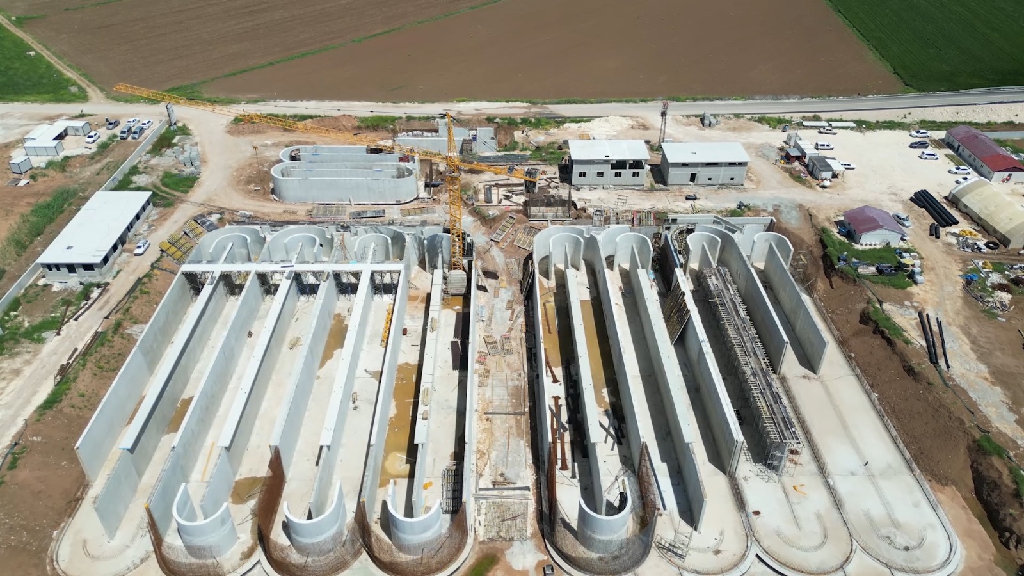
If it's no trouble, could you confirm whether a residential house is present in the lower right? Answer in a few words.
No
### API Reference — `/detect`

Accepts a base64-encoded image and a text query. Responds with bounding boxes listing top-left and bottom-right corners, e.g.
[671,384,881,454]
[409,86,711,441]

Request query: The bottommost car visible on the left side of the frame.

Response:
[127,236,154,253]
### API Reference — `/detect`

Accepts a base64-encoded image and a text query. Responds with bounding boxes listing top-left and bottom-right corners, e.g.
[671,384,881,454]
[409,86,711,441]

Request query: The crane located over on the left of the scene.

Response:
[116,85,541,303]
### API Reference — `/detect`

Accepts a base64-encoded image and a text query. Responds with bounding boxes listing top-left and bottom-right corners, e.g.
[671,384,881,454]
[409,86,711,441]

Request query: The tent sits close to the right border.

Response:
[949,172,1024,248]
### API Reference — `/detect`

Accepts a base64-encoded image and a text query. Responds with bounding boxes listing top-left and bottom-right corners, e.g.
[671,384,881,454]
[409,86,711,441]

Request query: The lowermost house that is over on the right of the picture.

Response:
[843,201,907,244]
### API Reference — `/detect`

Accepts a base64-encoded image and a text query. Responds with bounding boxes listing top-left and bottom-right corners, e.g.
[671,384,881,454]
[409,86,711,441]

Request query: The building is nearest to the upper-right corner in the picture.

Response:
[944,119,1024,182]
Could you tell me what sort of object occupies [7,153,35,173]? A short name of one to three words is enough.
building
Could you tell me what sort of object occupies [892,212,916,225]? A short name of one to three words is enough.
vehicle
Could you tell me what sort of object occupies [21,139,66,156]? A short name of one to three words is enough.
building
